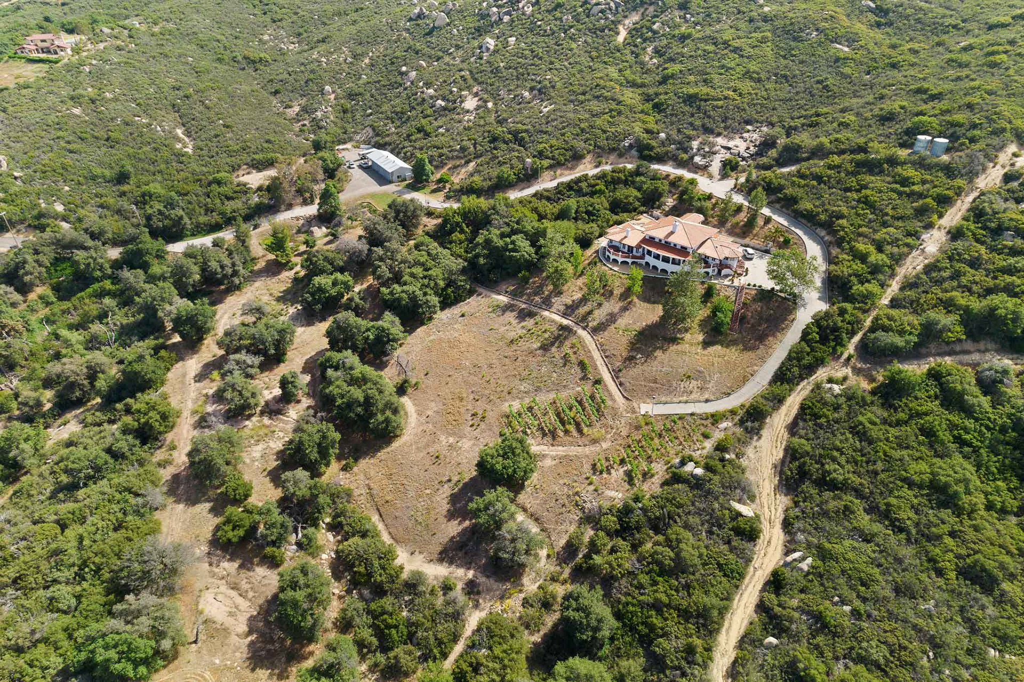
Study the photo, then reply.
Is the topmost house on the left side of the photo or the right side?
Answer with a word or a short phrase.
left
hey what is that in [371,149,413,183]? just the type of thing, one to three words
shed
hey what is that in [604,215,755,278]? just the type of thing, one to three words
house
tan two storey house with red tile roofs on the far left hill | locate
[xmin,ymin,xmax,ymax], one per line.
[8,32,74,58]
